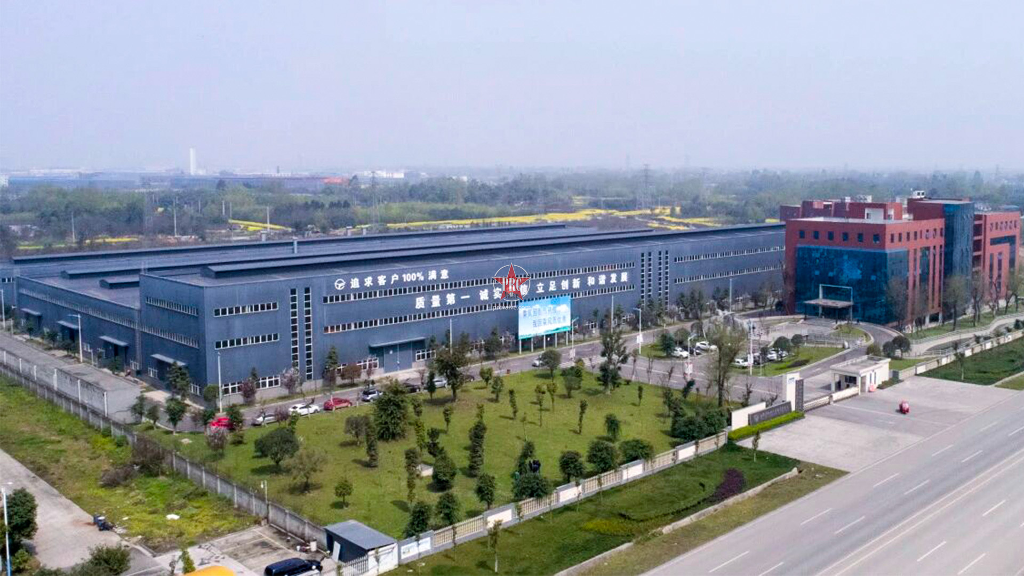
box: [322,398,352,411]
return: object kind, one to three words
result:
vehicle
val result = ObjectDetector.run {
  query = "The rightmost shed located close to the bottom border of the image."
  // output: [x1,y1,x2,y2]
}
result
[318,516,398,573]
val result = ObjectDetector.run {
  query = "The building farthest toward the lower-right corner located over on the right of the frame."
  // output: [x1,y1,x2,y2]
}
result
[825,354,906,397]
